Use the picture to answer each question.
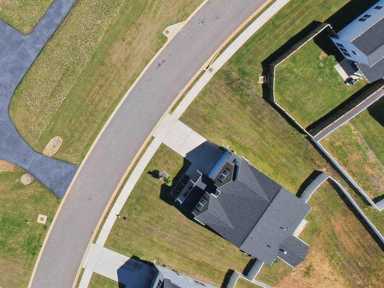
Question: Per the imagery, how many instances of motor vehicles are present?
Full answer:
Not a single motor vehicle can be seen.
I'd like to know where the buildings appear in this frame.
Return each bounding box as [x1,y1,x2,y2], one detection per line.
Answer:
[334,1,384,84]
[141,264,200,288]
[185,151,313,269]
